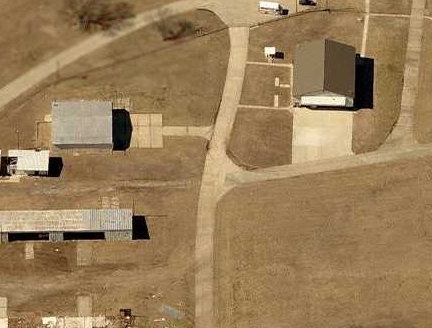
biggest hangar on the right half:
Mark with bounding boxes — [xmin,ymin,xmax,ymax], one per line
[292,38,355,108]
